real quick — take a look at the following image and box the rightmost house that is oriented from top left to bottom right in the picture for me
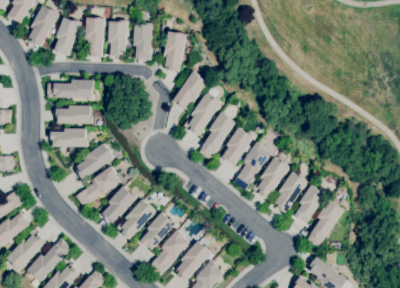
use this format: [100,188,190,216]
[309,258,354,288]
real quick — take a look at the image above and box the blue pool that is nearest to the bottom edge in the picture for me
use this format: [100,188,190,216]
[185,223,204,238]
